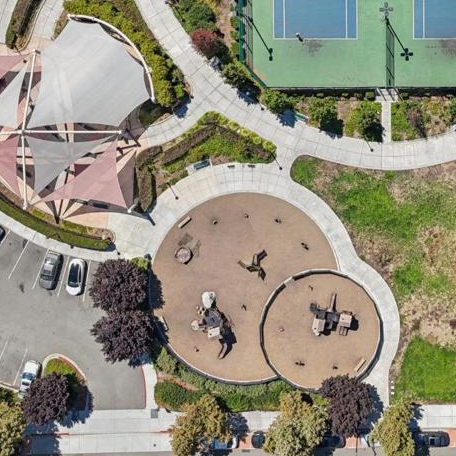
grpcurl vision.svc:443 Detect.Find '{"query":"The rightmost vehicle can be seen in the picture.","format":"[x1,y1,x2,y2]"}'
[415,429,450,449]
